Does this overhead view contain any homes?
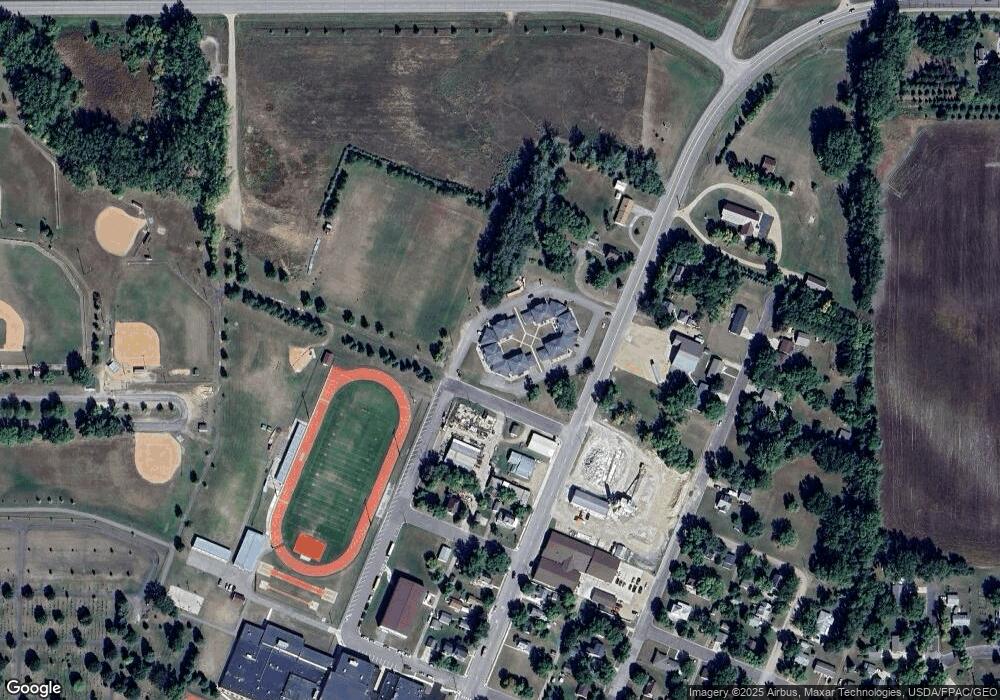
Yes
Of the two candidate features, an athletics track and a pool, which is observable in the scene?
athletics track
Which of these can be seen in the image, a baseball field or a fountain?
baseball field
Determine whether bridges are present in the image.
No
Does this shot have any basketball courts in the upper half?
No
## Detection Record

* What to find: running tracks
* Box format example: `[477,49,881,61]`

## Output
[272,370,410,577]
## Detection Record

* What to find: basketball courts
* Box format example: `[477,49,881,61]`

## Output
[169,585,204,615]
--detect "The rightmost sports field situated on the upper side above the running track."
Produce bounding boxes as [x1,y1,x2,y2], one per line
[322,157,482,331]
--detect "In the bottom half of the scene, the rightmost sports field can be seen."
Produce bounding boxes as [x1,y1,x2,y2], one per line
[285,383,396,564]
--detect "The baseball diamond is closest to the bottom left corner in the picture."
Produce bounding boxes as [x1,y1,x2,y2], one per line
[136,432,181,483]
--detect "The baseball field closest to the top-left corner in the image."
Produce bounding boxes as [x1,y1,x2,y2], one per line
[0,124,56,234]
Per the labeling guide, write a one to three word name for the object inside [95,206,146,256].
baseball field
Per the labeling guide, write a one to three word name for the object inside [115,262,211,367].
baseball field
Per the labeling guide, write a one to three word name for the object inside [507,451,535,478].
building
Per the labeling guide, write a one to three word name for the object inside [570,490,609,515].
shed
